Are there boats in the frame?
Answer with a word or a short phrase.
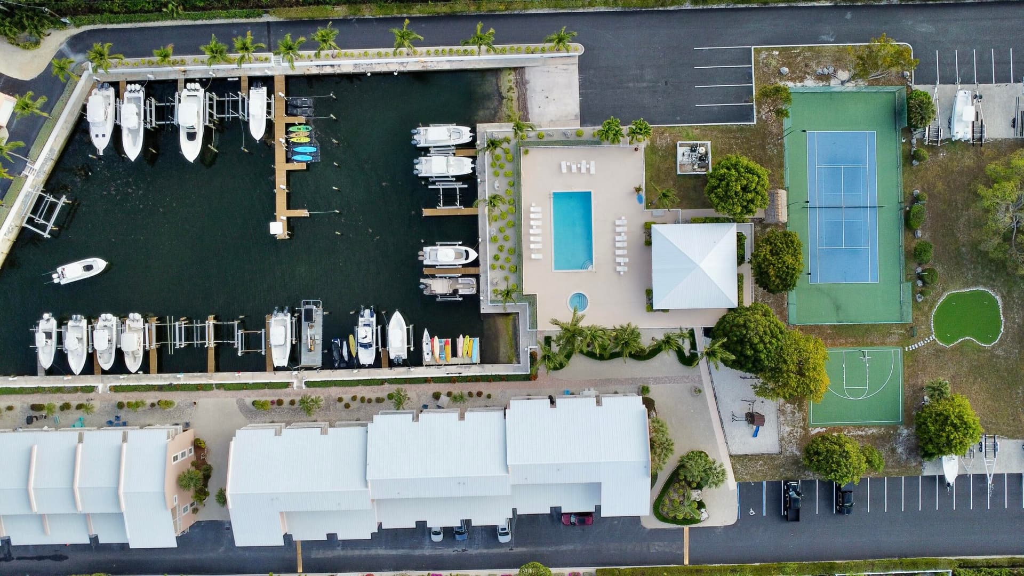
Yes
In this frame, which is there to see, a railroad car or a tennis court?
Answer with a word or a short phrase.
tennis court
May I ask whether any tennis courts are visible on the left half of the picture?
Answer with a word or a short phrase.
No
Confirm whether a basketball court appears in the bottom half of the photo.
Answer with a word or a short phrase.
Yes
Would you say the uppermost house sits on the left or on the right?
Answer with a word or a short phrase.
left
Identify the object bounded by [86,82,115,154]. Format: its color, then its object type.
white boat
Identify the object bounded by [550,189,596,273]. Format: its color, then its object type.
blue swimming pool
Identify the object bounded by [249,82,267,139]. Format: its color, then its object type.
white boat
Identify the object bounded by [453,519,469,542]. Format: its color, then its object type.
blue vehicle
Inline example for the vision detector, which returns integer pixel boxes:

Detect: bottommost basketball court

[810,347,904,426]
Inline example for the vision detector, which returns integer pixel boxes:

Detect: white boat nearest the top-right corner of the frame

[955,91,981,144]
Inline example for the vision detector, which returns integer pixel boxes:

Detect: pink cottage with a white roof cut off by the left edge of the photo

[0,90,28,131]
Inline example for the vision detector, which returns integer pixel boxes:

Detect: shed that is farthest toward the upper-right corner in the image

[762,189,787,223]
